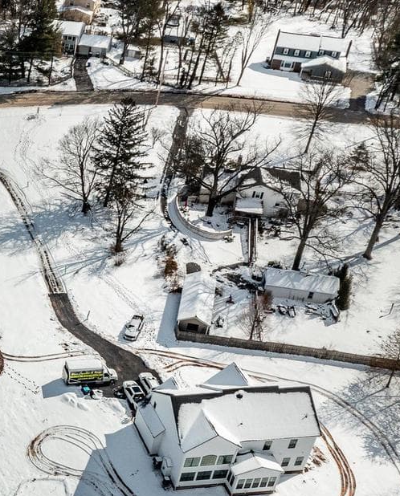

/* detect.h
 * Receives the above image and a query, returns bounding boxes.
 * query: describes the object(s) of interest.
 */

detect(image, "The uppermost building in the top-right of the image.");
[261,26,360,78]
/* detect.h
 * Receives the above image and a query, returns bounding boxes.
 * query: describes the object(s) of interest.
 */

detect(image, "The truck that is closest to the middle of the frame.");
[124,311,146,337]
